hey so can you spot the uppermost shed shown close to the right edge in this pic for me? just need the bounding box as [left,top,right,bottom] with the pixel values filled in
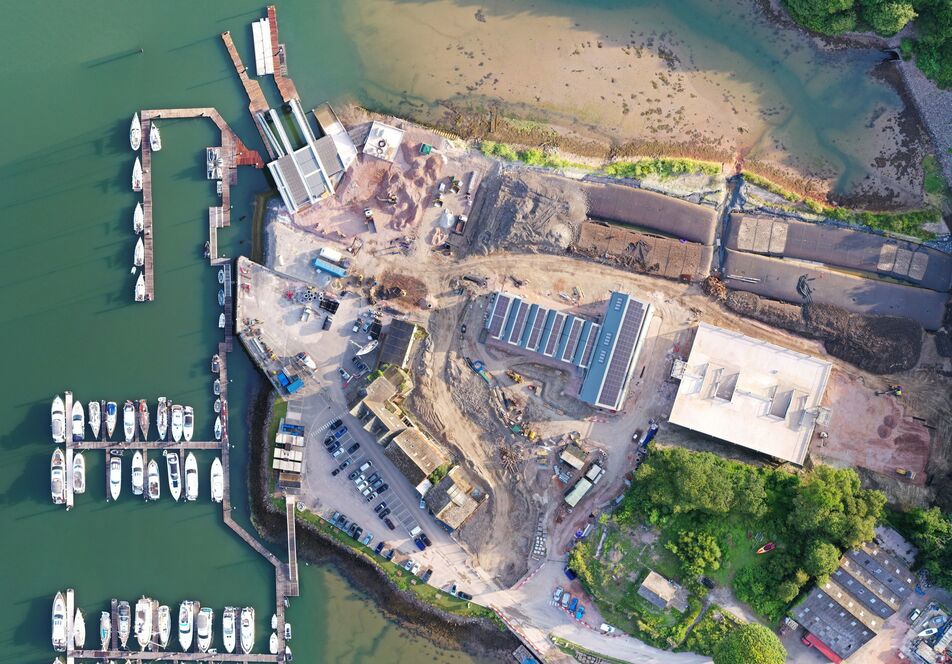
[723,214,952,291]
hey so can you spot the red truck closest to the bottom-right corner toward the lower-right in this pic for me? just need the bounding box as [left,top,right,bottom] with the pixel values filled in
[804,632,847,664]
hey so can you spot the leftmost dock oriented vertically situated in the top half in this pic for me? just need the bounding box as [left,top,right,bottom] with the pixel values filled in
[141,118,154,301]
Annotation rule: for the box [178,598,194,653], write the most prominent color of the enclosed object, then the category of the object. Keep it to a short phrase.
white boat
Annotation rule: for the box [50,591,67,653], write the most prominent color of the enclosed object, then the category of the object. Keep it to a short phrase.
white boat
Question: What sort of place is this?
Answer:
port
